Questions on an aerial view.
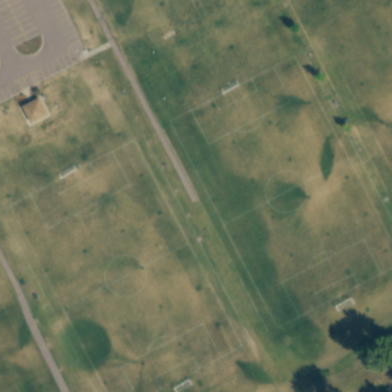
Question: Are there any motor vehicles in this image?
No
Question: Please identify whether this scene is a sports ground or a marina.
sports ground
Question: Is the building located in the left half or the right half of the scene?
left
